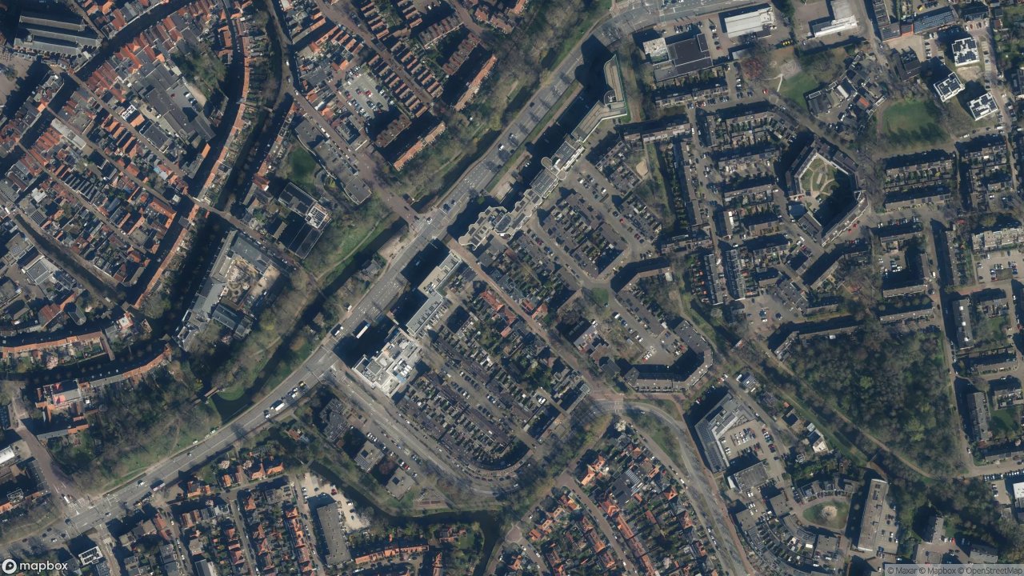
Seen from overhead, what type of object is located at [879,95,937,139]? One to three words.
sports field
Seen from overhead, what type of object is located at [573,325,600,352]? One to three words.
building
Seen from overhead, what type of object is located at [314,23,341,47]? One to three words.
house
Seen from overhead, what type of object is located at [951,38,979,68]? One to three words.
building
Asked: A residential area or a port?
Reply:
residential area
